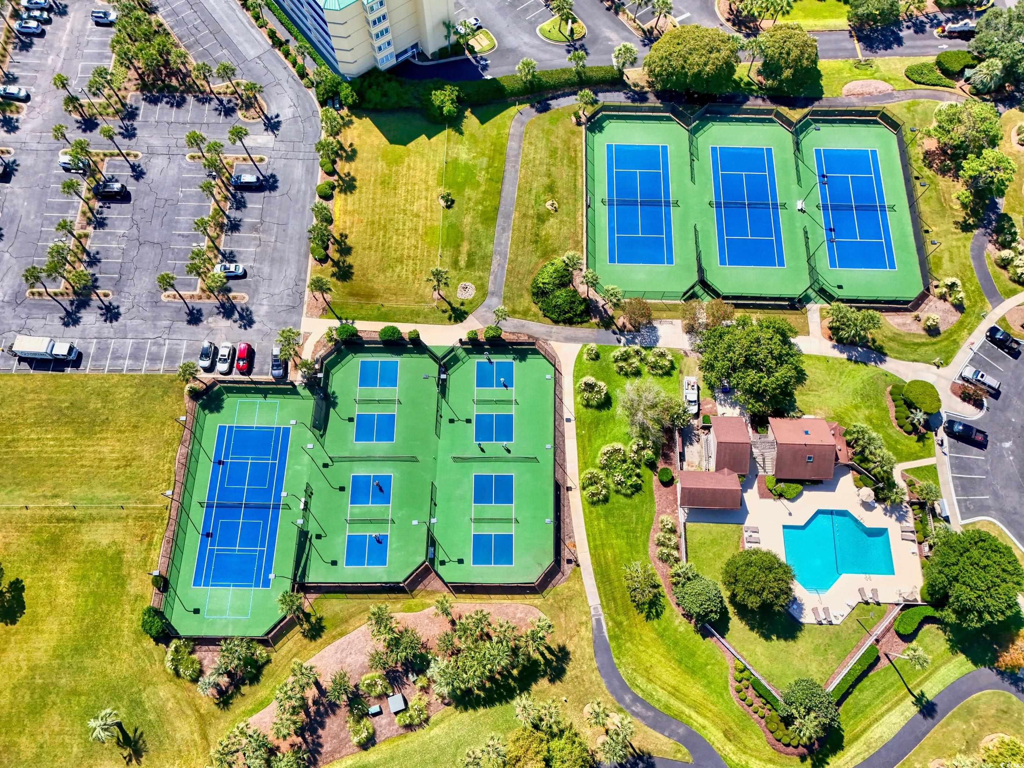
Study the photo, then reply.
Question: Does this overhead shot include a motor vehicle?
Yes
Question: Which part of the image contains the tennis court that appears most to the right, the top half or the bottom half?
top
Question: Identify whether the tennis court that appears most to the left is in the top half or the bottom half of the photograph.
bottom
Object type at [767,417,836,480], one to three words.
building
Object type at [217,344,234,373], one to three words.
car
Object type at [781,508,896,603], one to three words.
swimming pool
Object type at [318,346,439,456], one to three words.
sports court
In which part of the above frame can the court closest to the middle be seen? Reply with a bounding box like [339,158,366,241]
[435,347,555,456]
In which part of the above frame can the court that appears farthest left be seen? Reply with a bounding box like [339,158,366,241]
[163,367,325,637]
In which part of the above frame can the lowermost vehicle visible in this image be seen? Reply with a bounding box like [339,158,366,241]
[944,422,988,446]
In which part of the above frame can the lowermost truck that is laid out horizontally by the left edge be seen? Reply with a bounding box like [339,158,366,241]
[12,341,78,365]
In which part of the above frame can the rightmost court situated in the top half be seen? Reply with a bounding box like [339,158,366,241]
[792,118,924,309]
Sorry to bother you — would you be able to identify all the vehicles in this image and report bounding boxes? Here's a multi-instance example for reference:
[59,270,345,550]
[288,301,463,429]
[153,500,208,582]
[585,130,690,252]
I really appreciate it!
[269,346,286,380]
[93,184,127,200]
[683,376,700,413]
[0,166,10,178]
[462,15,484,33]
[22,10,50,24]
[944,422,988,446]
[983,327,1023,355]
[215,263,245,278]
[231,174,261,189]
[197,340,216,369]
[235,343,253,372]
[962,367,1002,393]
[217,344,234,373]
[14,20,43,35]
[91,9,118,24]
[22,0,50,11]
[0,87,29,101]
[12,341,78,365]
